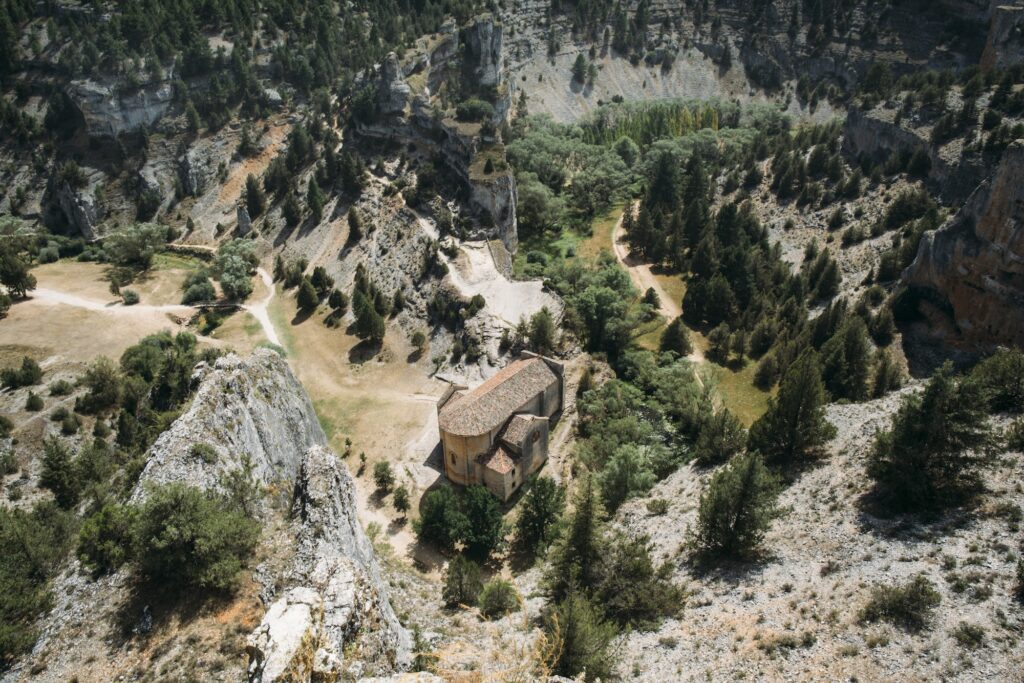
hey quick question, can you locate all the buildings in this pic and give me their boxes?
[435,346,567,501]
